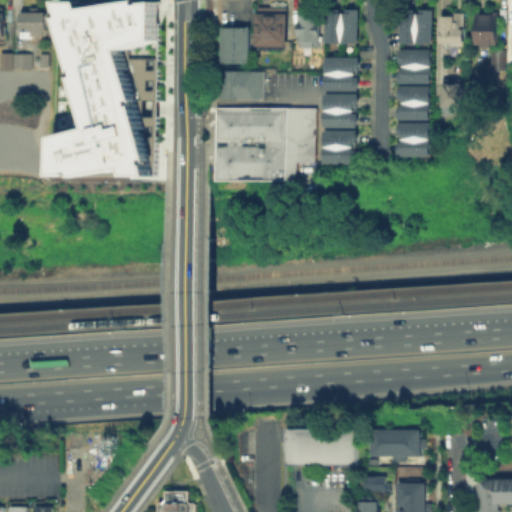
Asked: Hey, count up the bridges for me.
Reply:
1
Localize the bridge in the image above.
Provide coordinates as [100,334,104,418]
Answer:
[158,193,210,436]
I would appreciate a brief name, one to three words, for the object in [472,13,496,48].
house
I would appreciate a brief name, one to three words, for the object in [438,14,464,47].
house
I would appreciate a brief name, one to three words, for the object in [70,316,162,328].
train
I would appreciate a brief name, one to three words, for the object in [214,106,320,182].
building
